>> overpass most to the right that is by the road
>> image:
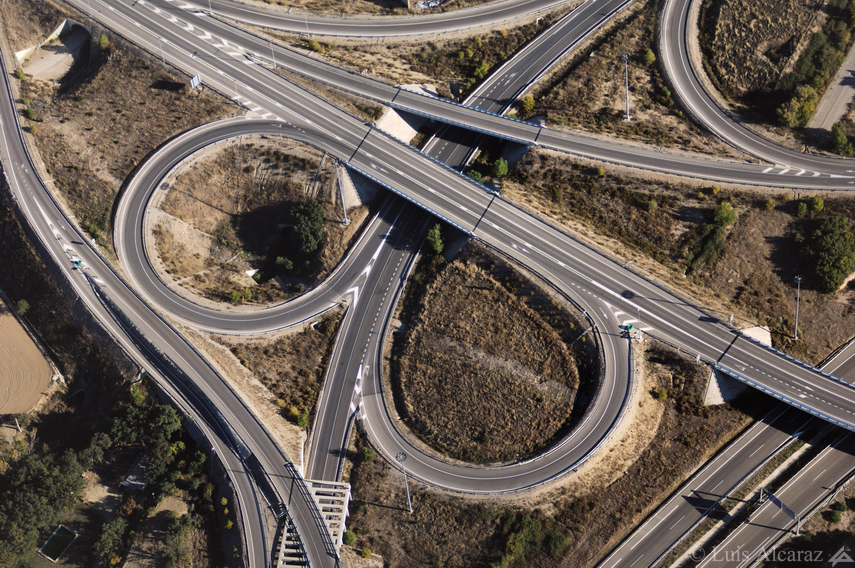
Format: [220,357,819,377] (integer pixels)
[713,327,855,434]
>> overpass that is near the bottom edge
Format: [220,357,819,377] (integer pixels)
[271,469,341,568]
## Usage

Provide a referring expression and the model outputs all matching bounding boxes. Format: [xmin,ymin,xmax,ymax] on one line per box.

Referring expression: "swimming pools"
[39,525,78,562]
